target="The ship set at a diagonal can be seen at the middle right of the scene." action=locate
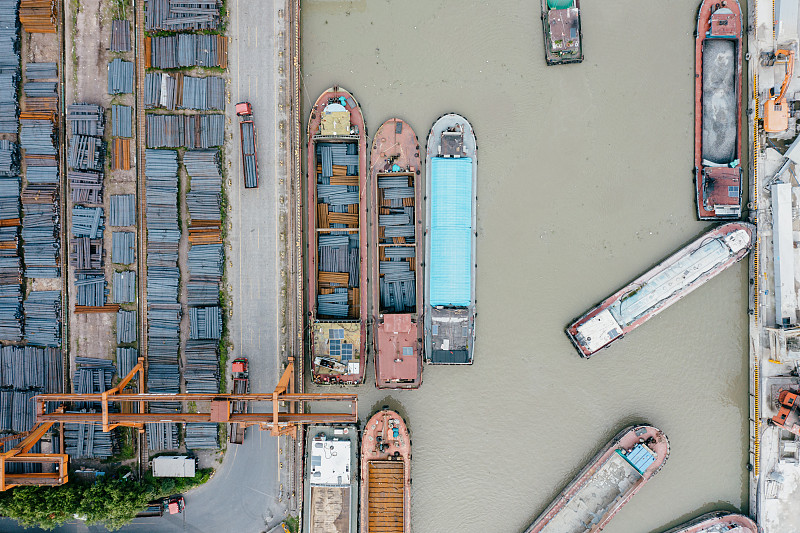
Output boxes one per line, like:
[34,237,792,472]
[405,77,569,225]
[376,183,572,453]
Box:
[562,220,758,360]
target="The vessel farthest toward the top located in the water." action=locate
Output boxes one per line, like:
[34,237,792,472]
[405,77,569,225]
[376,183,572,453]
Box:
[541,0,587,69]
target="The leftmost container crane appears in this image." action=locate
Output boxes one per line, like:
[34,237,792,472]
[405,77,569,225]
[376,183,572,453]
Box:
[0,404,70,492]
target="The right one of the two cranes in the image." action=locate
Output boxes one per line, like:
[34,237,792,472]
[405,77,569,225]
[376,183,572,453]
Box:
[36,355,358,442]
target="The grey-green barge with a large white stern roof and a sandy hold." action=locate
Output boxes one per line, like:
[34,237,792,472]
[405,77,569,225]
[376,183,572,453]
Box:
[301,424,361,533]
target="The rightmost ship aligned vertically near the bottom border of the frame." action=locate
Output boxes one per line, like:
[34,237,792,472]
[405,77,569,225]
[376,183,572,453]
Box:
[359,403,414,533]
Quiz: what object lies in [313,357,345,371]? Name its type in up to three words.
boat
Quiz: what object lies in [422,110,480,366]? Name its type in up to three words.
ship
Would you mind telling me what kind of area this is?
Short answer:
port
